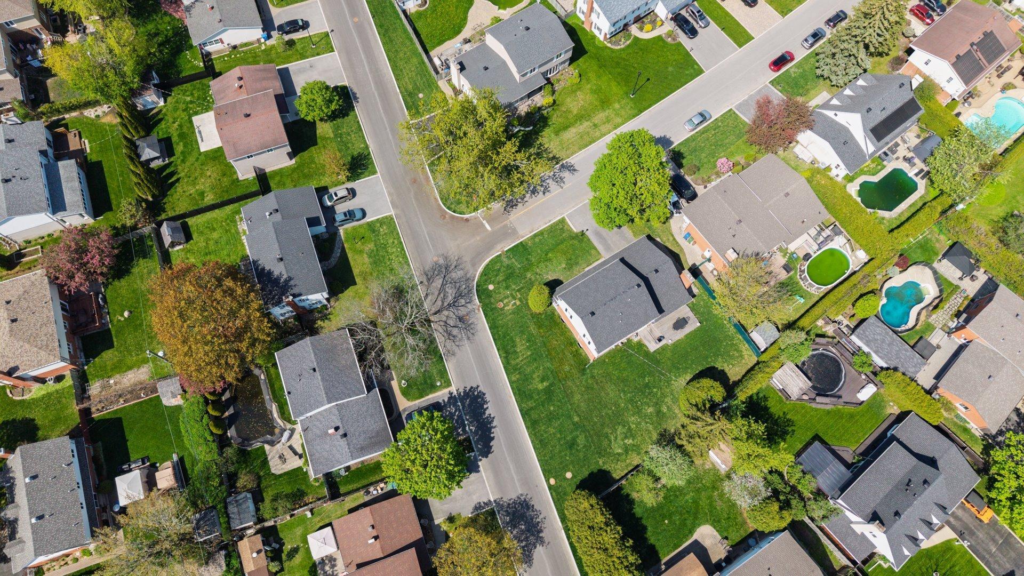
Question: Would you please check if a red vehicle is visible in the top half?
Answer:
Yes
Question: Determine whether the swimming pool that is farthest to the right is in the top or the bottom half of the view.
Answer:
top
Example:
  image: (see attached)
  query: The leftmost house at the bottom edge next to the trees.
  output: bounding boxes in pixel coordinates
[0,436,108,572]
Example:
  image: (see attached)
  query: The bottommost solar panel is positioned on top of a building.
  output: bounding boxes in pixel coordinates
[871,100,916,142]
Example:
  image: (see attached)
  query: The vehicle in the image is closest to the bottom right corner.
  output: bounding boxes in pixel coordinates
[961,490,994,525]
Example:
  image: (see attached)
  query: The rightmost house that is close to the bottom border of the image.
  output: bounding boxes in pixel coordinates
[817,412,981,572]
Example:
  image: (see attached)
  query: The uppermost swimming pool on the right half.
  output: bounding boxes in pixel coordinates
[965,96,1024,148]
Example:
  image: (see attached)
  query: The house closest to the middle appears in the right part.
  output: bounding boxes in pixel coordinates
[556,236,694,358]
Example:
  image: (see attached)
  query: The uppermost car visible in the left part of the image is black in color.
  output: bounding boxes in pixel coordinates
[276,18,306,37]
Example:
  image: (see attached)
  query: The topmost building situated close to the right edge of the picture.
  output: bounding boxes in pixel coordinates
[896,0,1023,107]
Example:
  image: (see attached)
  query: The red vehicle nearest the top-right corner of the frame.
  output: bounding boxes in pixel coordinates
[909,4,935,26]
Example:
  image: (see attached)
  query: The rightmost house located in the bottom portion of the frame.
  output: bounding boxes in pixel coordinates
[929,284,1024,435]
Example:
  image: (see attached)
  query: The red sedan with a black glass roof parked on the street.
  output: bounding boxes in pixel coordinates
[768,51,795,73]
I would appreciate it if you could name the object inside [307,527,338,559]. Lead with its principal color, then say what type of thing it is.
white gazebo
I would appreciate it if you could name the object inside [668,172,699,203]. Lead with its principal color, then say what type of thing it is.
black car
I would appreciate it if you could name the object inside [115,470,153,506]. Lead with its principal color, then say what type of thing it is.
white gazebo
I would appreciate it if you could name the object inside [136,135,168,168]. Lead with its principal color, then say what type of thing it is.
gray gazebo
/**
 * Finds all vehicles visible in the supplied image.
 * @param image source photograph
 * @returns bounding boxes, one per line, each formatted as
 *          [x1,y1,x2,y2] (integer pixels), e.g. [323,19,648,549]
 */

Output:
[822,10,849,31]
[668,172,699,203]
[332,208,366,228]
[800,28,827,50]
[276,18,306,37]
[685,4,710,29]
[665,191,684,219]
[321,186,354,209]
[405,399,442,424]
[672,14,698,39]
[961,490,994,525]
[917,0,947,19]
[683,110,712,132]
[909,4,935,26]
[768,51,795,73]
